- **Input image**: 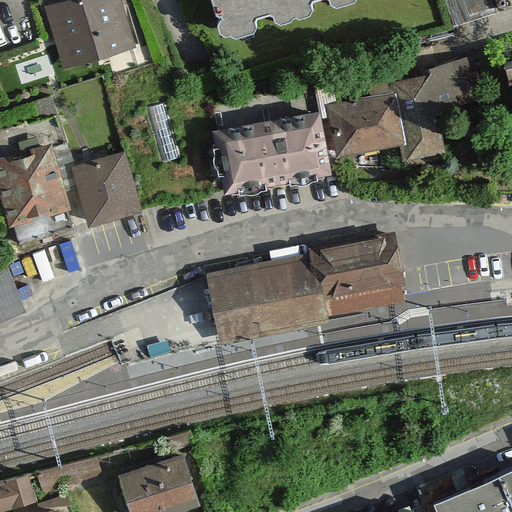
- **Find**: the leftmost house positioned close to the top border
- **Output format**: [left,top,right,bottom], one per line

[44,0,136,70]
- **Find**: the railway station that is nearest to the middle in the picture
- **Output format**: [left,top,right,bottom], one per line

[207,250,328,344]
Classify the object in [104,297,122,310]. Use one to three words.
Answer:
vehicle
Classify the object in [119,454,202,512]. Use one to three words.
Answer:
house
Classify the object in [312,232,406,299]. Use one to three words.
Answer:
train station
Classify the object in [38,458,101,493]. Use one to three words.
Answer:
shed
